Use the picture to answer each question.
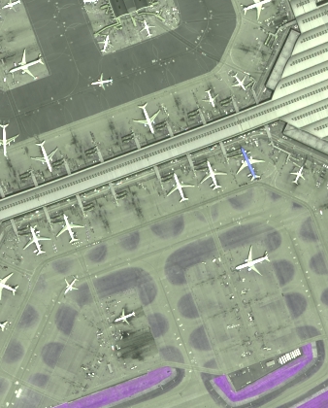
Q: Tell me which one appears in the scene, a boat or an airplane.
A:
airplane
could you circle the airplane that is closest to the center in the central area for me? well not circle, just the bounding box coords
[169,174,197,202]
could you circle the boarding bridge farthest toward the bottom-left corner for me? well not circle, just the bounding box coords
[10,220,30,237]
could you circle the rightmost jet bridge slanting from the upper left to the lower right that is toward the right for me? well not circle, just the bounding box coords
[266,127,301,168]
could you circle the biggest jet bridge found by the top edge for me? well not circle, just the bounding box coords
[265,20,297,45]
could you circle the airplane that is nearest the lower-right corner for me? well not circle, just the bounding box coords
[236,241,273,274]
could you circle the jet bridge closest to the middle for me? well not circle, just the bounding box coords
[154,167,174,182]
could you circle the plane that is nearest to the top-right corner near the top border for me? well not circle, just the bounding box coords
[242,0,270,19]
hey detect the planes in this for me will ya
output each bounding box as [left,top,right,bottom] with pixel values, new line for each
[116,305,136,324]
[0,122,19,156]
[58,215,86,243]
[132,102,159,133]
[242,0,270,19]
[3,0,22,10]
[141,21,155,37]
[9,46,45,76]
[0,274,20,302]
[237,147,268,181]
[236,241,273,274]
[91,71,114,90]
[203,161,229,189]
[237,74,249,91]
[66,278,79,292]
[24,226,53,255]
[169,174,197,202]
[28,138,58,171]
[201,86,218,106]
[96,36,112,52]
